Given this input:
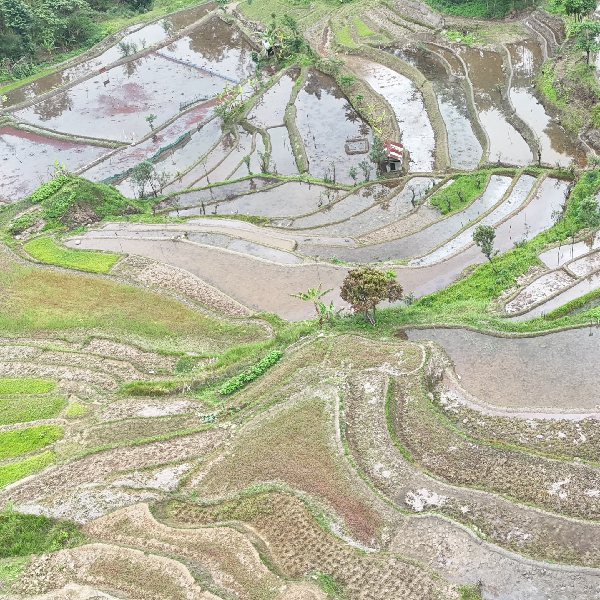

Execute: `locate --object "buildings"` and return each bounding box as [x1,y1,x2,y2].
[380,137,406,167]
[257,40,280,63]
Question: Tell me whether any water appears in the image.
Yes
